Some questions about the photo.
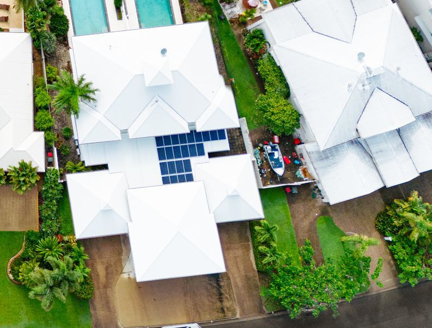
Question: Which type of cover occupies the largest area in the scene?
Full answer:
Most of the picture is covered by buildings.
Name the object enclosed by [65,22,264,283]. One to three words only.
house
